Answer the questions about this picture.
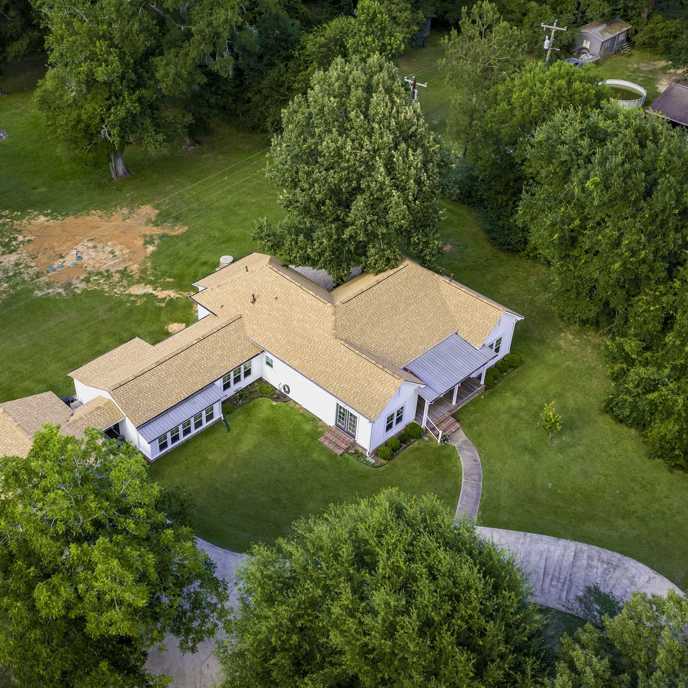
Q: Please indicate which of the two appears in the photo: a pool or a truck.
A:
pool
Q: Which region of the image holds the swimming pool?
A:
top right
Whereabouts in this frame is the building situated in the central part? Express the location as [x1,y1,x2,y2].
[65,251,524,457]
